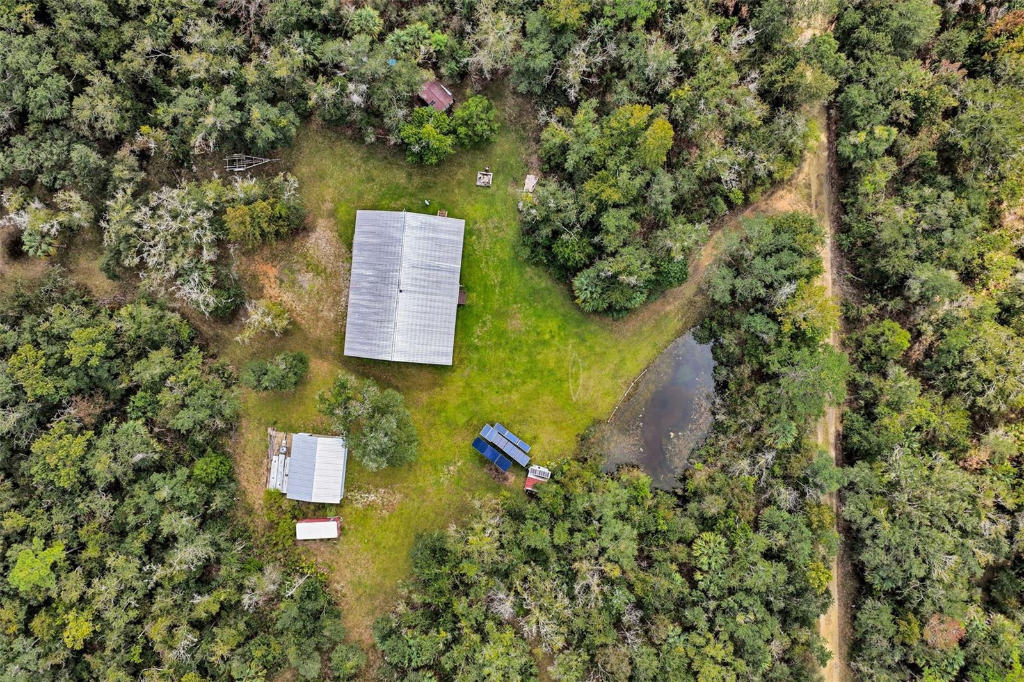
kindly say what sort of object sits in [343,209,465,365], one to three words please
house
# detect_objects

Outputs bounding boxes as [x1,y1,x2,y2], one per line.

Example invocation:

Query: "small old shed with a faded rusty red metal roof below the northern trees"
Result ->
[422,80,454,115]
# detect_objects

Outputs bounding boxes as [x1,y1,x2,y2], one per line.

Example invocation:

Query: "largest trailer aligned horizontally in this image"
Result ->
[297,518,348,540]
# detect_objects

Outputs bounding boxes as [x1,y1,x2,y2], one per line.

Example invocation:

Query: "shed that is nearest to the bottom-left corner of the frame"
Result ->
[286,432,347,503]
